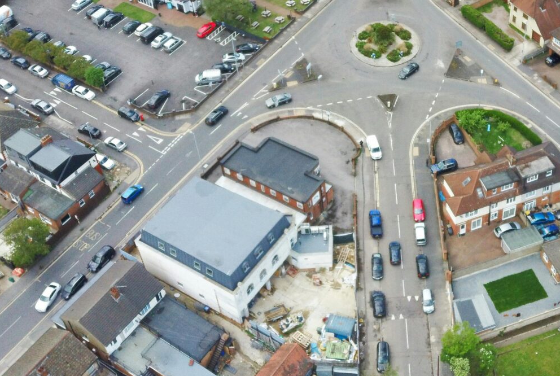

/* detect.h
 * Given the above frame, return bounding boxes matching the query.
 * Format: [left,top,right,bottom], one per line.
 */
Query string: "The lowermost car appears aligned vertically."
[376,342,390,373]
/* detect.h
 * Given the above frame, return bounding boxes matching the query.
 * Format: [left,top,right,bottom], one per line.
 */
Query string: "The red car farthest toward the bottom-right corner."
[413,199,426,222]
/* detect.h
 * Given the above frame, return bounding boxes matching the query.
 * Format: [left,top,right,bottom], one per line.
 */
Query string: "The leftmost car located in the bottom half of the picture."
[35,284,62,311]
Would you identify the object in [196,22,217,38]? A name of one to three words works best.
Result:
car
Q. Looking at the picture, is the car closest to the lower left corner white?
Yes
